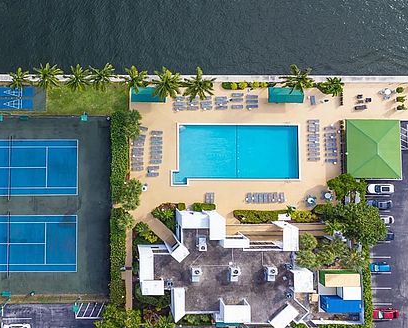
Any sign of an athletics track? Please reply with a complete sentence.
No, I can't see a single athletics track in this photo.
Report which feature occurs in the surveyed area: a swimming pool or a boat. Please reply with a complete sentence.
It is a swimming pool that can be seen here.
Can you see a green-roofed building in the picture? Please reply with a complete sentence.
Yes, this view includes a green-roofed building.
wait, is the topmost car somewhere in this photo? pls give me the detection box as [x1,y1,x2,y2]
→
[367,182,398,196]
